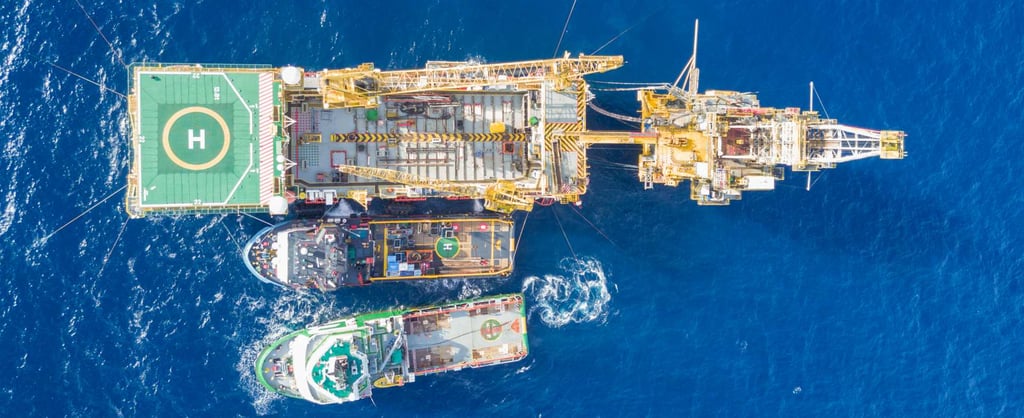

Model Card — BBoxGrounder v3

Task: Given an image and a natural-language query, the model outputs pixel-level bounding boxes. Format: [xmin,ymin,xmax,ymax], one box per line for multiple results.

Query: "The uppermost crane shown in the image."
[321,56,628,108]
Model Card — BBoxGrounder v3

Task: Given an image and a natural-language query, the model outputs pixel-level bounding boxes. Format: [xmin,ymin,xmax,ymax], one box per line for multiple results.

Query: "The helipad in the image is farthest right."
[480,318,503,340]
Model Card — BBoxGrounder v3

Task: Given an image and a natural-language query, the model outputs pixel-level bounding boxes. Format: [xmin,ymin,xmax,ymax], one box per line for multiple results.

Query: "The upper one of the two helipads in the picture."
[435,235,459,259]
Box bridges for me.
[561,130,656,149]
